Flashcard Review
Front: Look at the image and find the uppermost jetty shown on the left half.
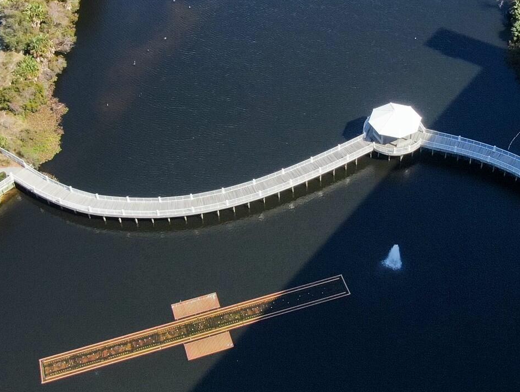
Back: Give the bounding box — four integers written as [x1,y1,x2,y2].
[171,291,221,320]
